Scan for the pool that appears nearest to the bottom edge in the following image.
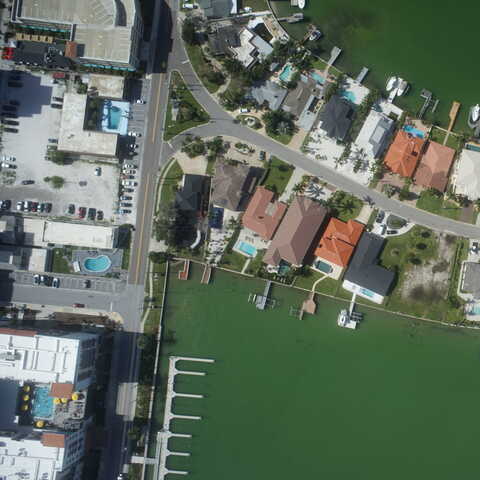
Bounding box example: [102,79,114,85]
[31,384,54,424]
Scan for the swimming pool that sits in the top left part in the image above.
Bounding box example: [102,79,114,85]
[107,106,125,129]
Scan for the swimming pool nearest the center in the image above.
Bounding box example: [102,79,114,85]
[239,239,258,256]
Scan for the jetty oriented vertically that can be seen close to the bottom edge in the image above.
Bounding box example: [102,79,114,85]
[130,352,216,480]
